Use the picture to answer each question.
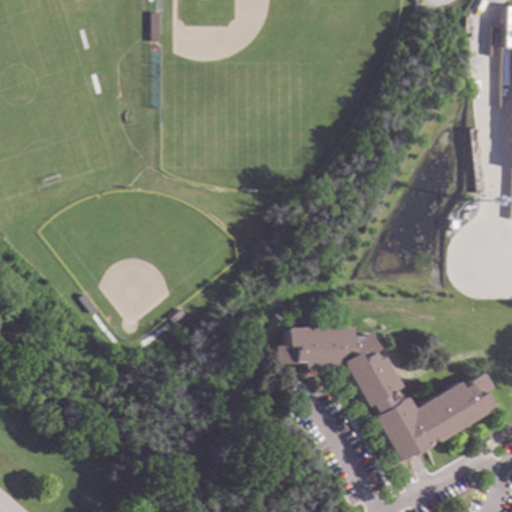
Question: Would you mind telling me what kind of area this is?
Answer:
sports ground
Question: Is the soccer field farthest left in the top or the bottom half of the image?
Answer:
top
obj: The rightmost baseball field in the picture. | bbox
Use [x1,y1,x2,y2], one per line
[162,0,400,190]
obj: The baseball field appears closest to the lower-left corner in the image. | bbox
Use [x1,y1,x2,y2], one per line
[42,190,236,339]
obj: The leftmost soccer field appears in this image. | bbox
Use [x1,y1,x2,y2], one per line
[0,0,112,200]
